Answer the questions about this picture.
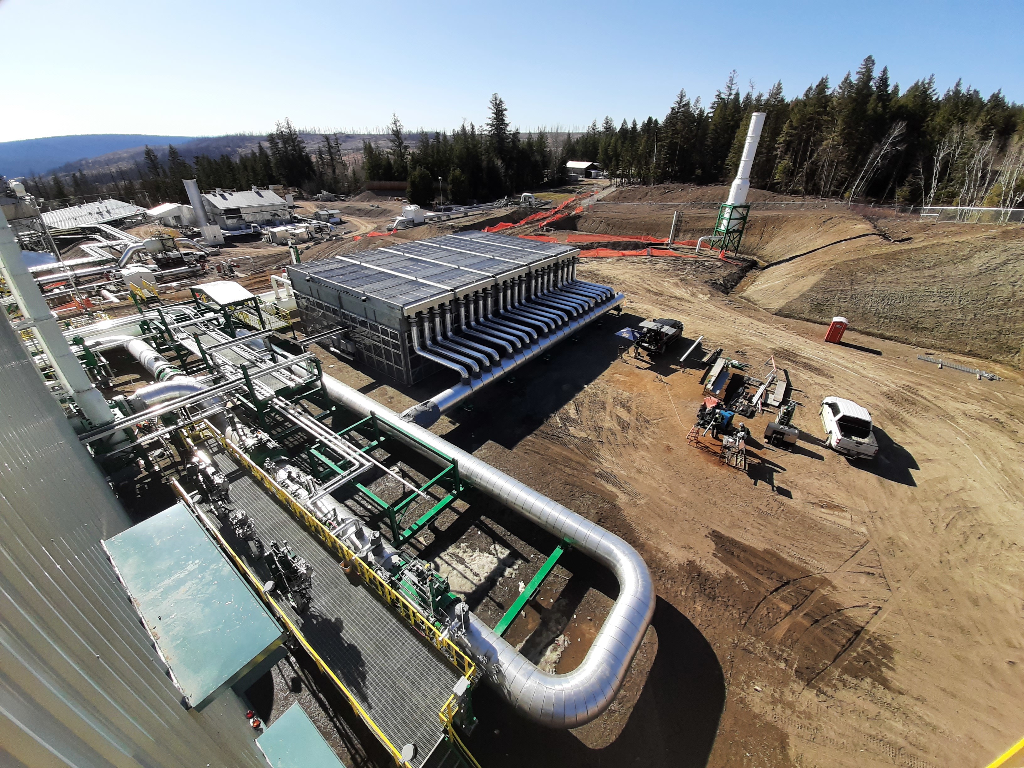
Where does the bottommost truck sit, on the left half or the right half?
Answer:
right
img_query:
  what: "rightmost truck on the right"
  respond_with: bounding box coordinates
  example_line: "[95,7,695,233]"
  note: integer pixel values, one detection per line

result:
[819,393,882,463]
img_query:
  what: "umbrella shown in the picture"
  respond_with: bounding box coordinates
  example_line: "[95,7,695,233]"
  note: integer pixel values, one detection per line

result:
[613,327,645,358]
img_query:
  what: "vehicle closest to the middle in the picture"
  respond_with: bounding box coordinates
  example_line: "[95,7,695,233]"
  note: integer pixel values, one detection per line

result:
[636,317,687,352]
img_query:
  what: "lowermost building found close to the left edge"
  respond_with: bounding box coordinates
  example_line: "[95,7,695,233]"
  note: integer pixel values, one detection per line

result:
[0,337,343,768]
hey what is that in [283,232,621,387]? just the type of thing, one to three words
building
